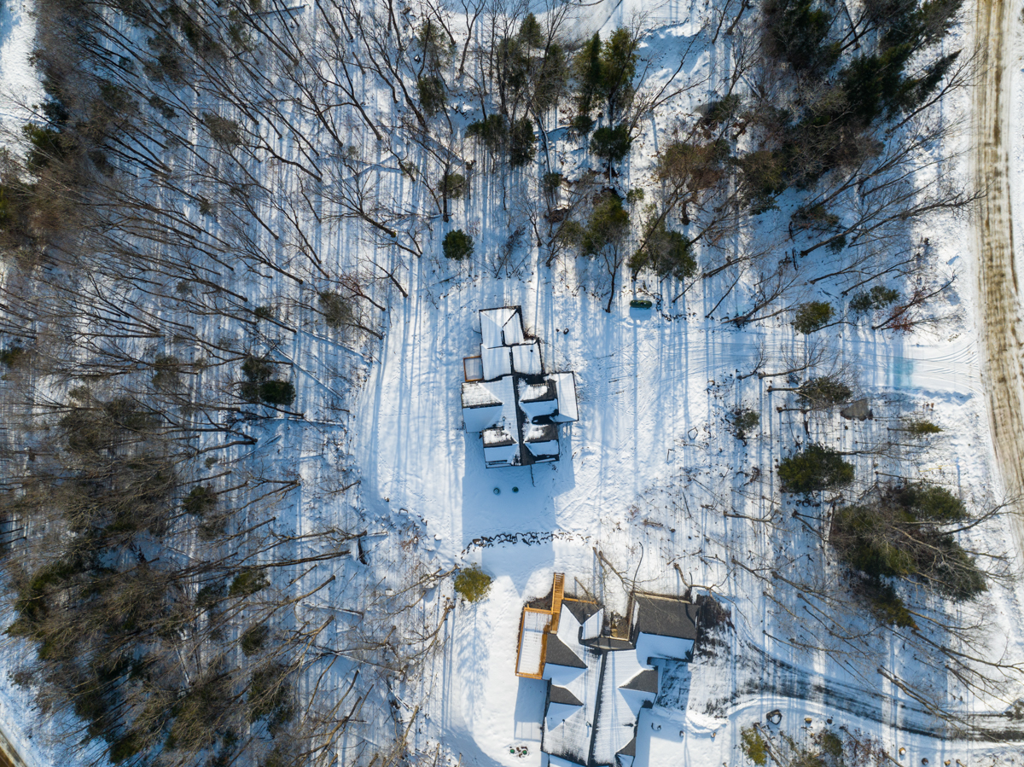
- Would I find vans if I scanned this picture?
No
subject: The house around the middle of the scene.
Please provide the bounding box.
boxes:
[462,306,578,469]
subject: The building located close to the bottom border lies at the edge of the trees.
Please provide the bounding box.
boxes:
[514,573,702,767]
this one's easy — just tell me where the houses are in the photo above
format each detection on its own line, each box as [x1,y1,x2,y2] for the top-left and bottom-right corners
[462,306,578,469]
[514,573,702,767]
